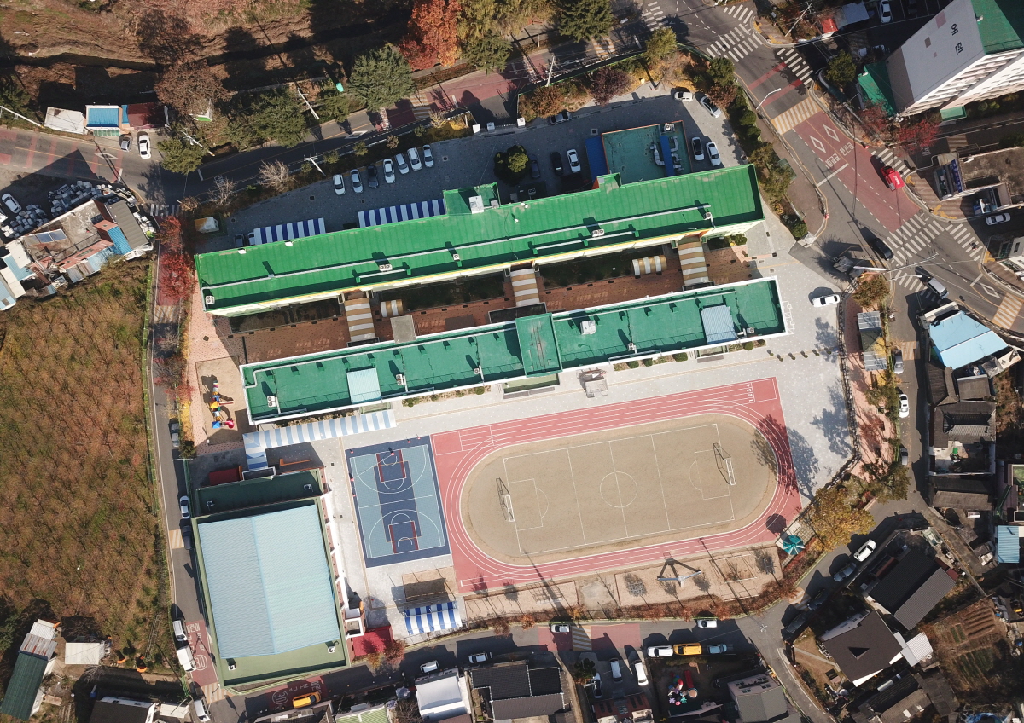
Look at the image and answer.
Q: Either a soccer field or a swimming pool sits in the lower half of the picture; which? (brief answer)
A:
soccer field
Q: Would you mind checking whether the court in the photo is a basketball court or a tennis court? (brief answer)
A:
basketball court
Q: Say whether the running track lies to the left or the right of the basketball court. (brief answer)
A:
to the right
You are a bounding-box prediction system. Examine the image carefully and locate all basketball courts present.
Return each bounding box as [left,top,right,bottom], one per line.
[345,436,451,568]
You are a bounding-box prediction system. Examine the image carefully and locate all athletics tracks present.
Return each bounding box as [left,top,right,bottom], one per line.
[432,377,802,593]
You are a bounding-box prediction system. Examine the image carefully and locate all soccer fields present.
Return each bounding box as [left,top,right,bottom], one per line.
[462,412,776,565]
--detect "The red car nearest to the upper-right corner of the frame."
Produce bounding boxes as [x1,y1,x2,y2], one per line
[882,168,900,187]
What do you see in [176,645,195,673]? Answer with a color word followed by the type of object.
white vehicle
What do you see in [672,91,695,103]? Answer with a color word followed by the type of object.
white vehicle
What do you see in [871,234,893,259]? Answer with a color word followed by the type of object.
black car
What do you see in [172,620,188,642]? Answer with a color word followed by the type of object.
white car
